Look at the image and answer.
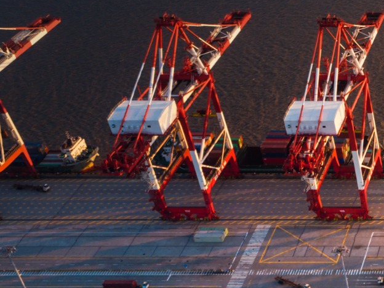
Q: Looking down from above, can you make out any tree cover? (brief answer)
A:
No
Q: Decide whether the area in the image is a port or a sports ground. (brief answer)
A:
port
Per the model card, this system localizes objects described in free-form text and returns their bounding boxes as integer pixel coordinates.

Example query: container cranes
[283,9,384,220]
[0,10,61,179]
[103,8,250,220]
